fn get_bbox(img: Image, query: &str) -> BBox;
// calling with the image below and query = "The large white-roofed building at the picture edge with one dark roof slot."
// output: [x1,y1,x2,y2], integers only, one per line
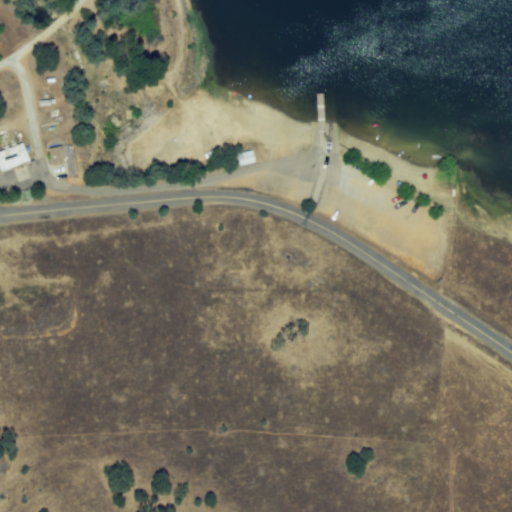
[0,143,31,173]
